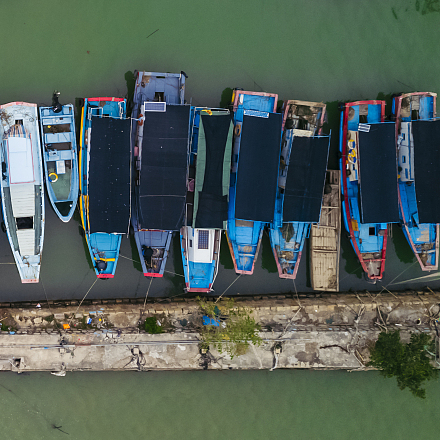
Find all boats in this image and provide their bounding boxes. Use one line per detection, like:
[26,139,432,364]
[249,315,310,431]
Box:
[180,106,234,292]
[130,71,190,277]
[77,97,131,278]
[332,101,400,278]
[388,92,440,270]
[269,99,331,277]
[226,89,282,273]
[0,102,45,283]
[39,97,79,218]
